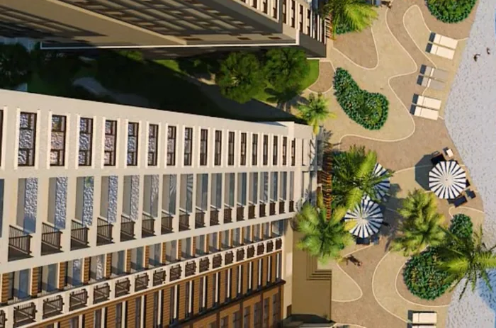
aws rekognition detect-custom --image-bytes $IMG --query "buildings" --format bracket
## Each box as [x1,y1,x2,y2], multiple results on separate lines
[0,90,323,328]
[0,0,328,55]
